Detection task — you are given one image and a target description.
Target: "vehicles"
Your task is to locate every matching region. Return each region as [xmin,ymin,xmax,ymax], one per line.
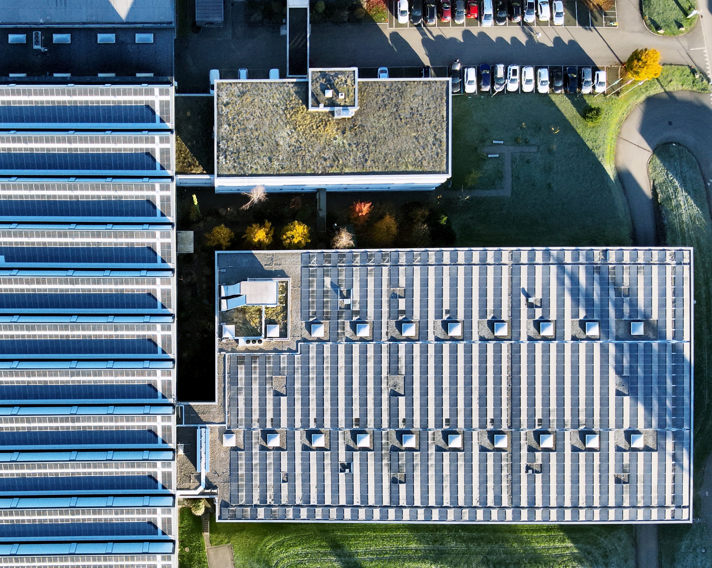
[565,69,578,94]
[449,64,462,94]
[479,0,493,28]
[438,0,452,26]
[269,69,281,79]
[494,2,507,27]
[377,67,388,79]
[505,66,519,93]
[593,71,606,95]
[491,66,505,93]
[509,1,523,27]
[550,2,564,27]
[396,0,410,27]
[520,67,534,94]
[453,1,465,26]
[522,0,536,25]
[424,3,437,29]
[477,66,491,92]
[536,0,549,24]
[535,70,548,94]
[209,72,220,93]
[578,70,593,94]
[237,69,249,79]
[549,71,564,95]
[350,65,359,79]
[466,1,477,22]
[419,68,430,79]
[463,68,475,95]
[408,0,422,26]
